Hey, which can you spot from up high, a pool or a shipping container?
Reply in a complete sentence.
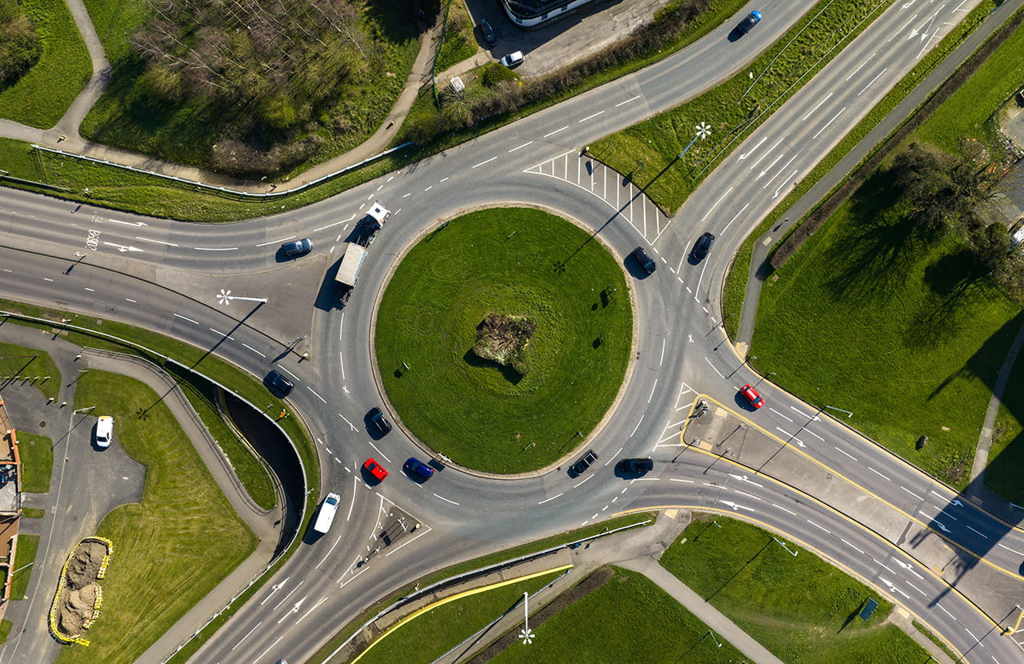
This aerial view contains a shipping container.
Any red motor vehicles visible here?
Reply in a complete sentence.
Yes, the frame does contain a red motor vehicle.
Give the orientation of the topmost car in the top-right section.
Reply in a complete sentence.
I'd say the topmost car in the top-right section is aligned at an angle in the picture.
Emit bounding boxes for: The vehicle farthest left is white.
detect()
[97,415,117,446]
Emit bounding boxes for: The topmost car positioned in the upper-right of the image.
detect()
[733,10,761,37]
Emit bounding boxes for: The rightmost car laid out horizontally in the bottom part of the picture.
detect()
[620,458,653,474]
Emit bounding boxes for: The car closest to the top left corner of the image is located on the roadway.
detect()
[281,239,314,256]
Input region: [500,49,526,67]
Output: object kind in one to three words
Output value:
car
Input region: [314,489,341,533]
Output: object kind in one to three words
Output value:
vehicle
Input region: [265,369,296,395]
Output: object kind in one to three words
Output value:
car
